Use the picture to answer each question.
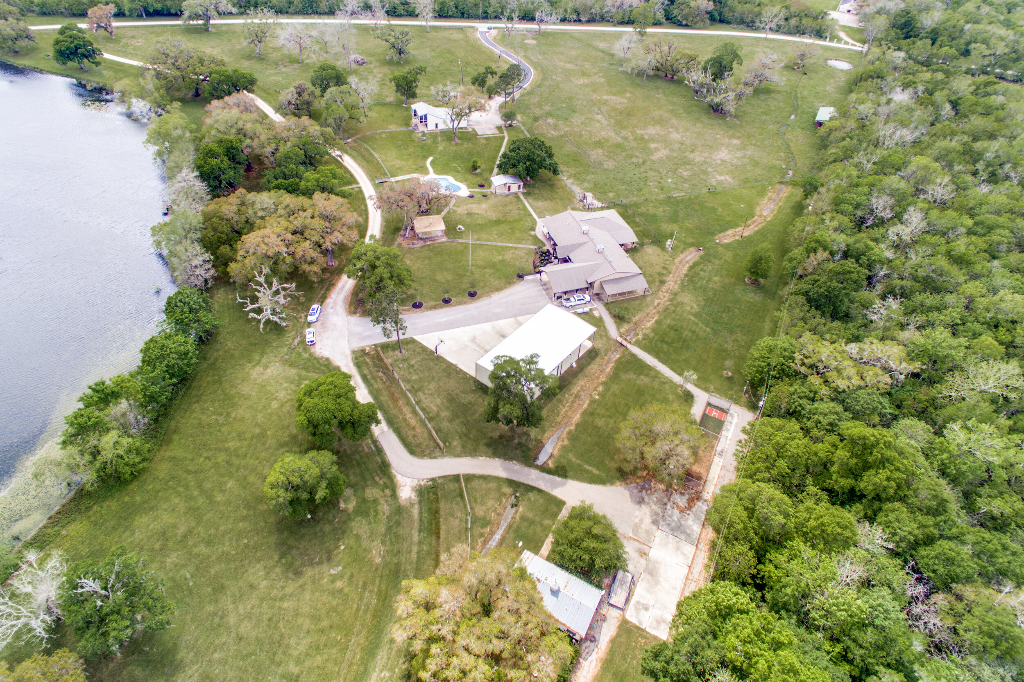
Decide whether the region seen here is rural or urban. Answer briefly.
rural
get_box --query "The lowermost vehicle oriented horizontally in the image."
[562,293,593,308]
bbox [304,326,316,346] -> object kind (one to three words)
vehicle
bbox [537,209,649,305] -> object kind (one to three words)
house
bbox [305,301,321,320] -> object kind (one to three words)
car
